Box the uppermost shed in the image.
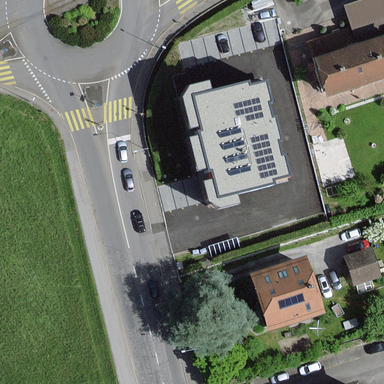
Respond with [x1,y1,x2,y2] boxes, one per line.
[344,0,384,30]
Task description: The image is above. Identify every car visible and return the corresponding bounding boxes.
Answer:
[317,274,332,298]
[348,240,370,252]
[258,9,278,20]
[132,210,144,232]
[116,140,128,163]
[270,372,290,384]
[341,228,362,240]
[216,32,230,54]
[122,168,134,191]
[329,270,342,290]
[364,342,384,353]
[252,22,265,44]
[300,362,322,375]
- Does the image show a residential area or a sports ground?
residential area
